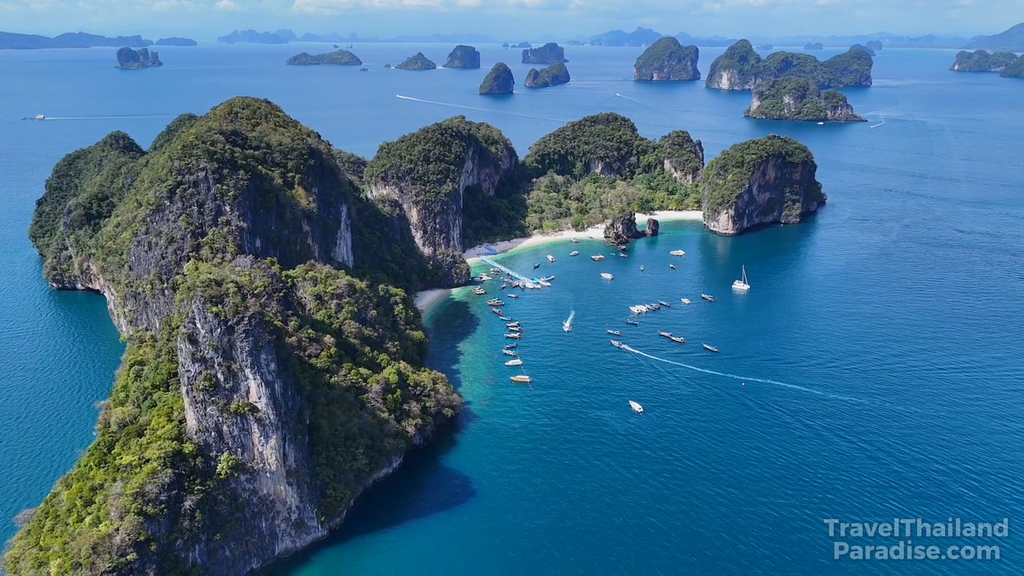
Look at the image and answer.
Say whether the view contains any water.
Yes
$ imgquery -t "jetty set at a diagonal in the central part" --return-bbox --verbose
[478,244,540,283]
